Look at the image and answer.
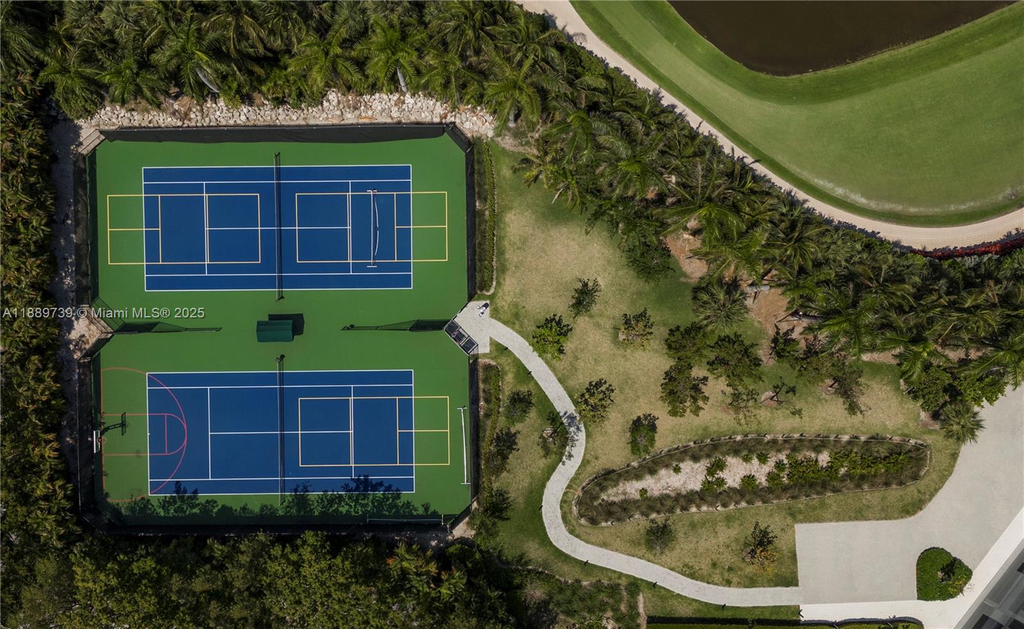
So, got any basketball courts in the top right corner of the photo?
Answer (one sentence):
No, in the top right corner of the photo there is no basketball court.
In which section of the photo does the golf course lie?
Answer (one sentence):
The golf course appears toward the top right of the photo.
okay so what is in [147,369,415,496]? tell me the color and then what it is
blue tennis court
